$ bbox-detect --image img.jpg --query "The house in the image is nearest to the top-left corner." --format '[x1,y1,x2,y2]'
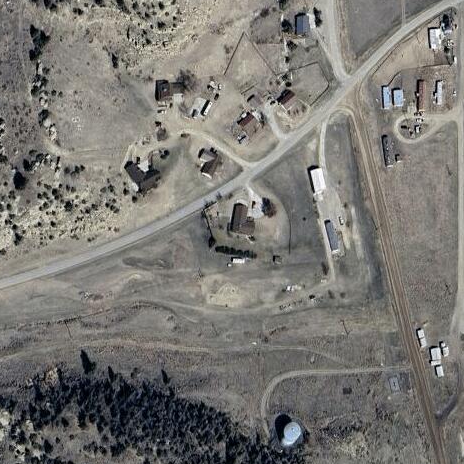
[158,80,183,102]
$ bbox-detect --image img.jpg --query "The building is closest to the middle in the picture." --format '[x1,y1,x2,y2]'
[232,204,256,234]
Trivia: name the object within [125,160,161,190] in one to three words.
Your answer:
house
